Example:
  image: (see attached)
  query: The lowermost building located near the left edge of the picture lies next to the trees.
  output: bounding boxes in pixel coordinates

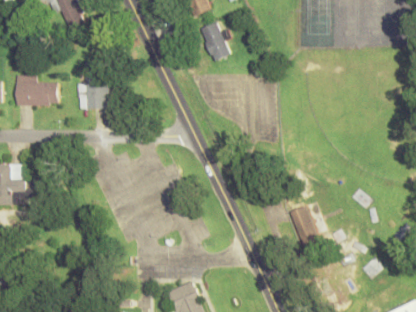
[0,164,28,206]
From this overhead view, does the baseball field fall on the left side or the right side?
right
